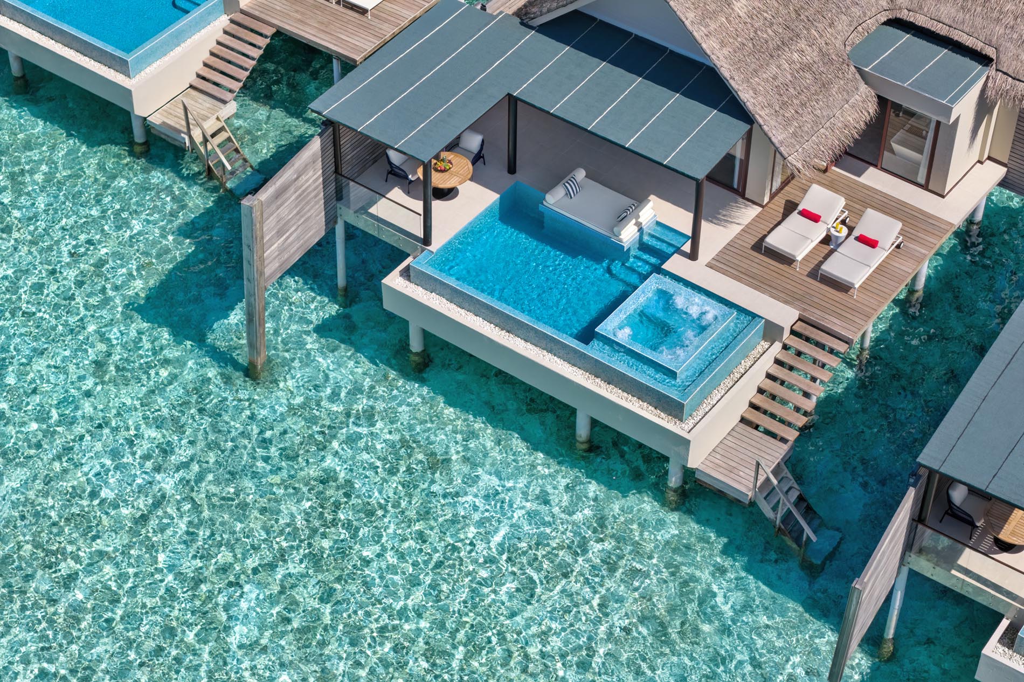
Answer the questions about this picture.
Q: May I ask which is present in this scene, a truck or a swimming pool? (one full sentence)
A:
It is a swimming pool that can be seen here.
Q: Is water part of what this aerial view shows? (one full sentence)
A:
Yes, the picture does contain water.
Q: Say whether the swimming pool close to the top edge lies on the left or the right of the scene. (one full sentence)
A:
You can find the swimming pool close to the top edge on the left side of the picture.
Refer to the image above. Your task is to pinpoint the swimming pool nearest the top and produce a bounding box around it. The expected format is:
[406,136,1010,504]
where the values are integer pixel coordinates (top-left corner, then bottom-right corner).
[0,0,233,141]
